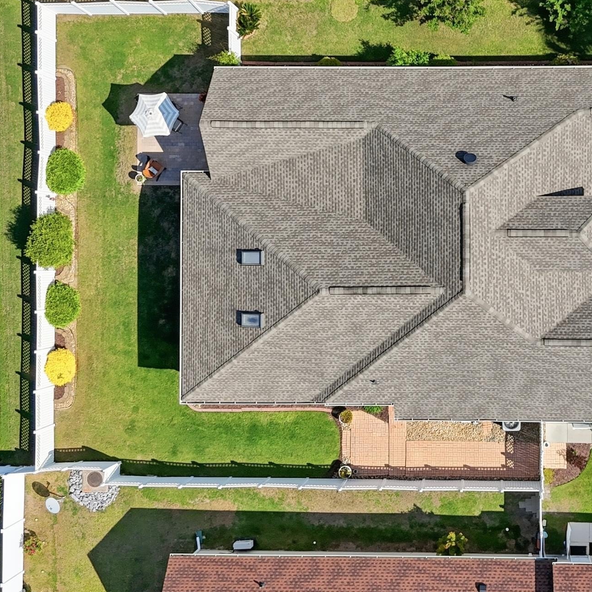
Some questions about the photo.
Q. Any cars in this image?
No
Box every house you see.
[162,537,592,592]
[178,64,592,426]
